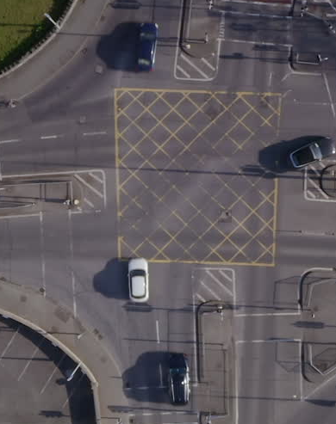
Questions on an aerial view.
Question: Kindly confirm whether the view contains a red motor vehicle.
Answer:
No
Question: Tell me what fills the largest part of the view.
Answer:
paved ground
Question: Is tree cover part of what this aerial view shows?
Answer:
No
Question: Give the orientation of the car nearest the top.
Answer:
up and down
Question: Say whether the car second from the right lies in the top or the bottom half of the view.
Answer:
bottom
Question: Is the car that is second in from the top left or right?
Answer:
right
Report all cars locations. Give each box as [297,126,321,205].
[288,137,336,168]
[127,258,150,301]
[136,23,158,71]
[167,354,190,405]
